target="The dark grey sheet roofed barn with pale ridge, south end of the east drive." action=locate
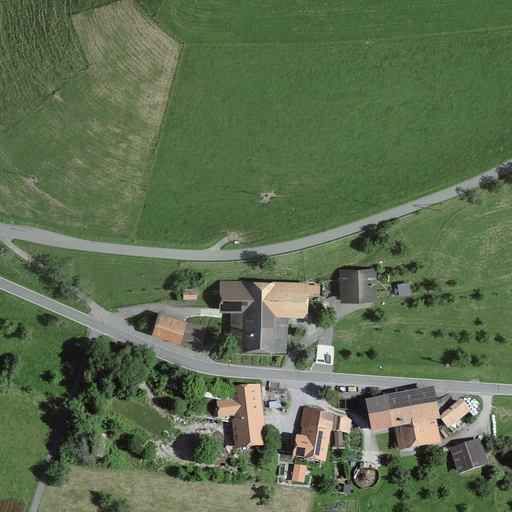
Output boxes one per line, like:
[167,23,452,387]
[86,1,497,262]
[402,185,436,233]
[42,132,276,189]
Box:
[450,439,488,474]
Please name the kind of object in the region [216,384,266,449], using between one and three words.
house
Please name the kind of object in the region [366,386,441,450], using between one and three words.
barn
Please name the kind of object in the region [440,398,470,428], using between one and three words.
barn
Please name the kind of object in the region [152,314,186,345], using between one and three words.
shed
